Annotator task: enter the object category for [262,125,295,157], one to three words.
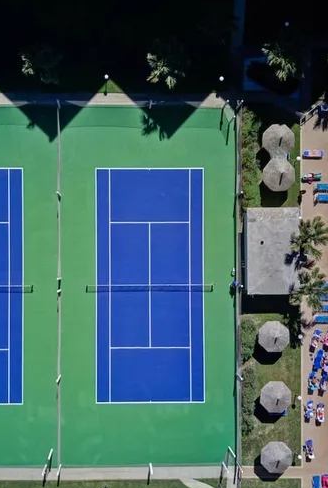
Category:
umbrella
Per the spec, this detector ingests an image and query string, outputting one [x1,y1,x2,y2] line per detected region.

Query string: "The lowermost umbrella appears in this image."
[260,441,292,474]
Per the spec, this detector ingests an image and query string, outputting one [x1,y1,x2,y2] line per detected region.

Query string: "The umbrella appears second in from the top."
[262,157,295,191]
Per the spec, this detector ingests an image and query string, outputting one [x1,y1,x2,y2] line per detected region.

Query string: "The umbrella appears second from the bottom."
[259,380,292,414]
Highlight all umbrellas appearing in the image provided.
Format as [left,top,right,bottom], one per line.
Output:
[260,441,292,474]
[259,380,292,414]
[262,157,295,191]
[262,125,295,157]
[257,320,291,353]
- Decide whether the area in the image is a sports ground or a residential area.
sports ground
